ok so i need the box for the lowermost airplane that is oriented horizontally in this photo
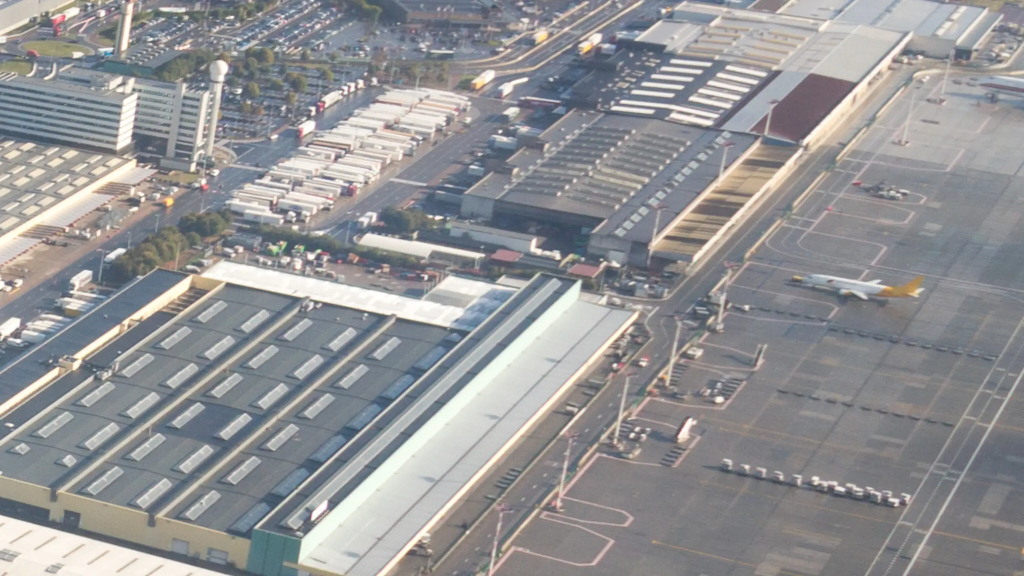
[802,272,930,307]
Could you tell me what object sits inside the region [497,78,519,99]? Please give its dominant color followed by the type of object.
white truck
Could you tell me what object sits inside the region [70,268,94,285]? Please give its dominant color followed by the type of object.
white vehicle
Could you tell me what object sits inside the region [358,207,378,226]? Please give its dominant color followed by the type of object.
white vehicle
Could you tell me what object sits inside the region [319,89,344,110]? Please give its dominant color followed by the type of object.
white truck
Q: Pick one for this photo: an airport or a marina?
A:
airport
